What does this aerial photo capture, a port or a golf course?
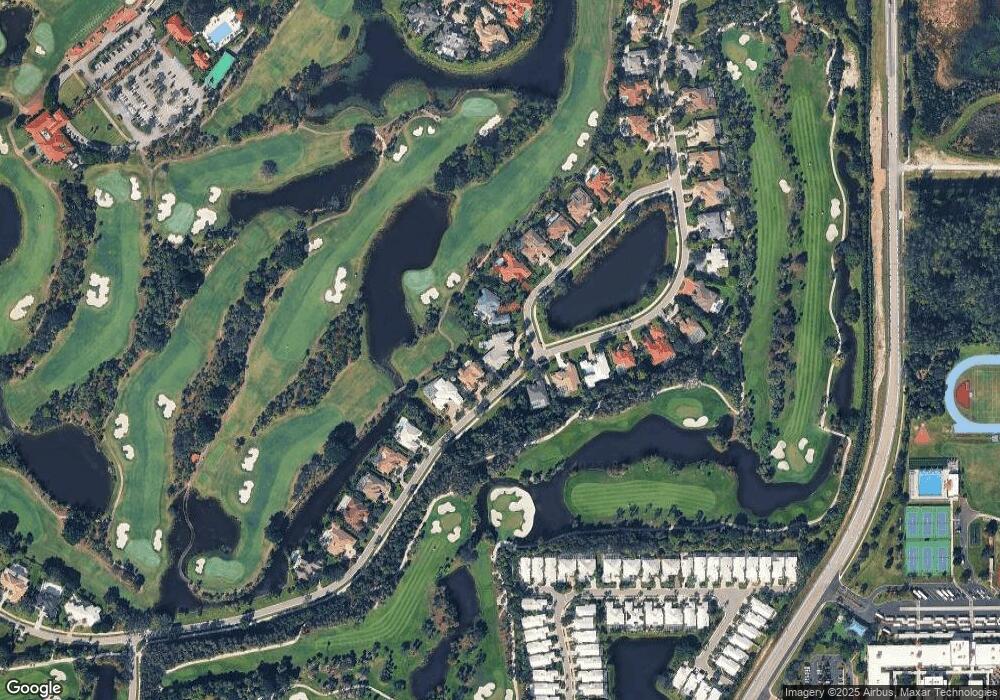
golf course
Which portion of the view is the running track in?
right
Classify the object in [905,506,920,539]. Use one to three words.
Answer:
tennis court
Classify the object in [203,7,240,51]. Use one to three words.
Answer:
swimming pool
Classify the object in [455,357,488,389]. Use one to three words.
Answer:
house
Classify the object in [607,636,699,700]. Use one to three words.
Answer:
pond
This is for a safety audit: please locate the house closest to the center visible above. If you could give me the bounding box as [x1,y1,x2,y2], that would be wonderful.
[478,330,515,371]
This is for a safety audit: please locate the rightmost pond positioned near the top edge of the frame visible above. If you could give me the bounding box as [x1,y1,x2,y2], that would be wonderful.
[305,0,577,120]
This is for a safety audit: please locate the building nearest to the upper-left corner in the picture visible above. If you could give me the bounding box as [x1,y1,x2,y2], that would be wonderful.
[25,105,70,164]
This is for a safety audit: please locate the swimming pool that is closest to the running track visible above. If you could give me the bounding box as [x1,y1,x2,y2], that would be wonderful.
[909,469,951,503]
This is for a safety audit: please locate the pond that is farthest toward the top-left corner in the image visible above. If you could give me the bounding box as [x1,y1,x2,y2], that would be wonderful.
[0,5,33,67]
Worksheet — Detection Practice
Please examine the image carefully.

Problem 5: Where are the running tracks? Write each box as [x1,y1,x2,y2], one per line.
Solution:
[945,354,1000,432]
